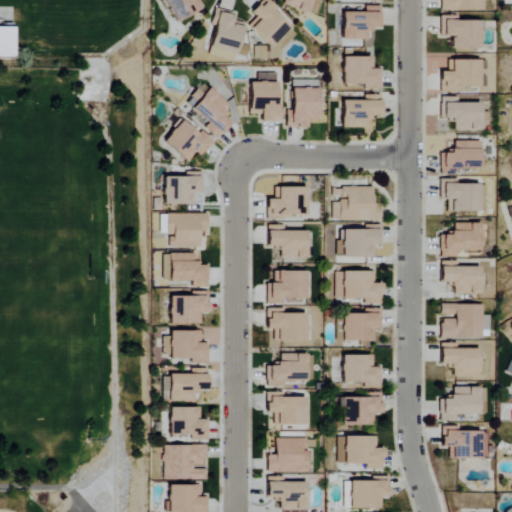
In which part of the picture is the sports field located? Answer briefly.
left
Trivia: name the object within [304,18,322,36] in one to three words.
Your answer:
swimming pool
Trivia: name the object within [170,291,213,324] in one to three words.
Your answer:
house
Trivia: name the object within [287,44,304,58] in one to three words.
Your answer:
swimming pool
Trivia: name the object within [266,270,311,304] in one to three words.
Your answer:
house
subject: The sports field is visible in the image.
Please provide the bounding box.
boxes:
[0,69,110,484]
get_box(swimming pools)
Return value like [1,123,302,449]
[326,322,336,345]
[500,462,512,474]
[159,36,180,49]
[332,486,342,502]
[484,28,494,44]
[500,500,512,512]
[233,69,250,80]
[165,78,186,92]
[304,18,322,36]
[156,168,166,182]
[153,485,164,508]
[311,488,322,508]
[156,102,166,121]
[466,470,490,482]
[287,44,304,58]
